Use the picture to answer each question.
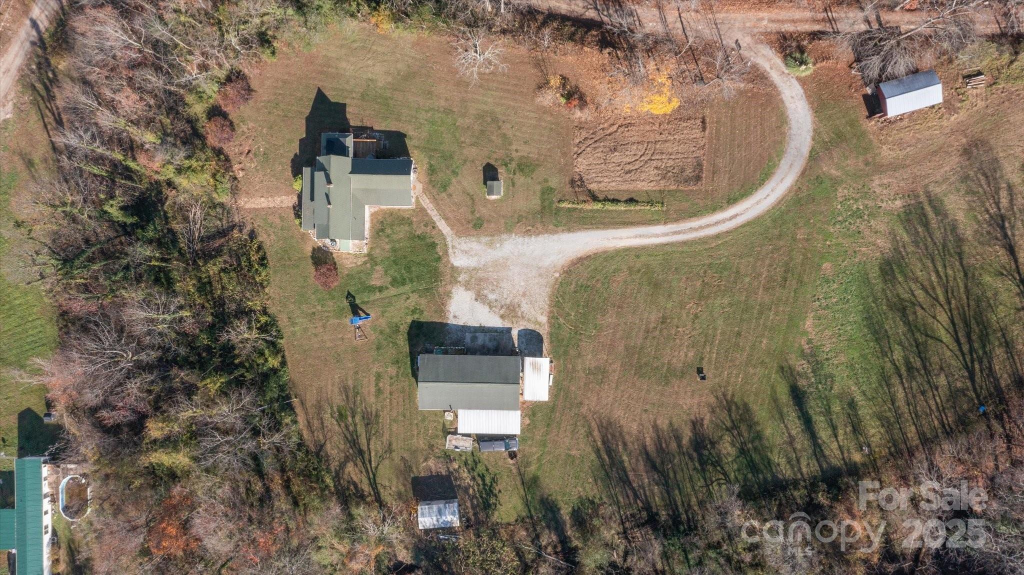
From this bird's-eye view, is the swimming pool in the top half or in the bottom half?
bottom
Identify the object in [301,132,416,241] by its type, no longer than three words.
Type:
house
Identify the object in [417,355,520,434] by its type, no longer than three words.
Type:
building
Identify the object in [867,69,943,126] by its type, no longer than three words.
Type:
barn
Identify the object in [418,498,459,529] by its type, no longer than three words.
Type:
shed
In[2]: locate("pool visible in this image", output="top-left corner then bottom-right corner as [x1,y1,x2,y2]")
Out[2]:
[54,475,90,524]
